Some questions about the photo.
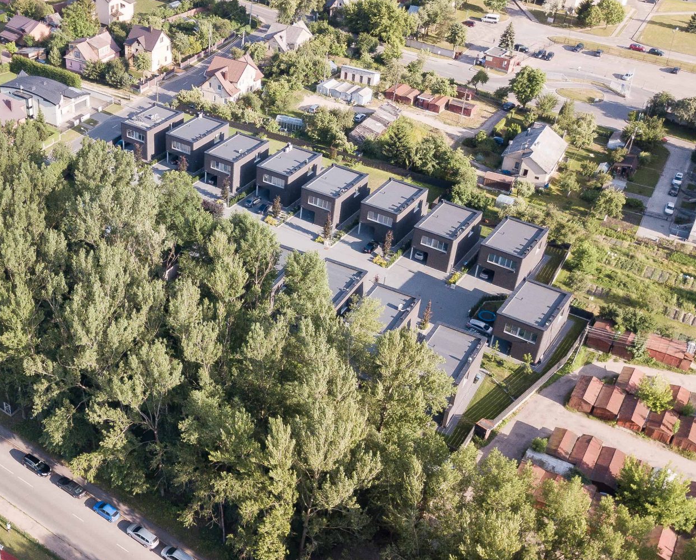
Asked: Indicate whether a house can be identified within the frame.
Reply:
Yes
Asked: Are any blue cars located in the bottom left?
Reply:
Yes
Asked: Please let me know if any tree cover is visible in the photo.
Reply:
Yes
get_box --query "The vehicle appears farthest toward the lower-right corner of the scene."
[465,317,492,337]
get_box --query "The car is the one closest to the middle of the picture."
[363,240,382,254]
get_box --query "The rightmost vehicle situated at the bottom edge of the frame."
[161,543,198,560]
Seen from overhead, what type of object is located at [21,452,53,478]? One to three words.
car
